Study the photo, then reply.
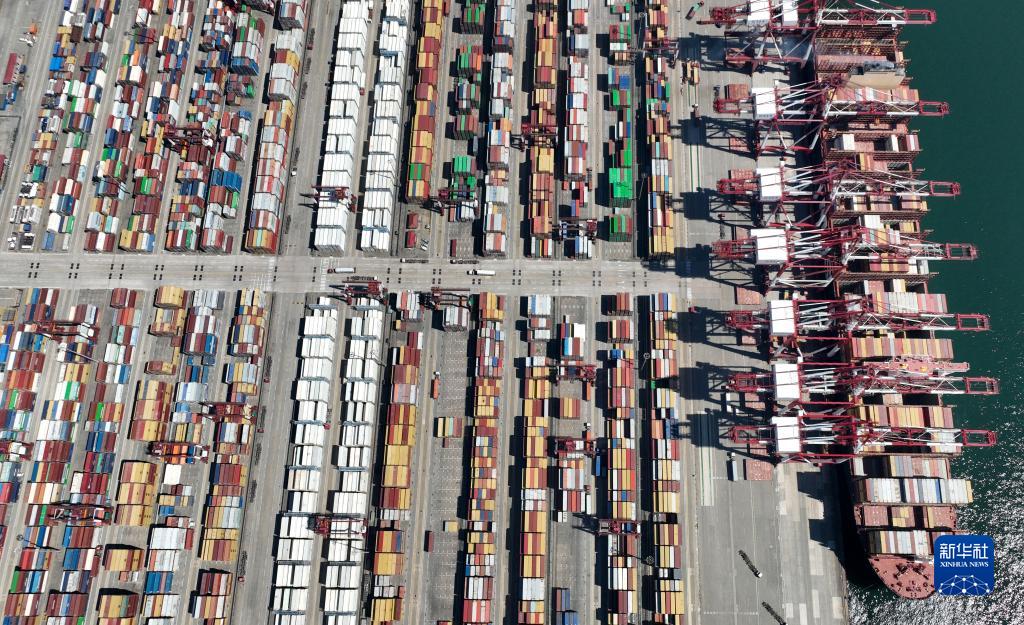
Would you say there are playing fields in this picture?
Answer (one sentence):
No, I can see no playing field in this picture.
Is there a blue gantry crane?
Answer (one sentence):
No, I find no blue gantry crane anywhere in the image.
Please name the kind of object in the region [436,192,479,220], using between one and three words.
container crane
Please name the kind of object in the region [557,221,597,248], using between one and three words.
container crane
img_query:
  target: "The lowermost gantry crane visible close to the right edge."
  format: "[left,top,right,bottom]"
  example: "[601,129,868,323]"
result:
[725,411,998,472]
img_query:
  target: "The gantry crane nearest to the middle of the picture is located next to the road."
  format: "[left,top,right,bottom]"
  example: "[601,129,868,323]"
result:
[430,289,474,315]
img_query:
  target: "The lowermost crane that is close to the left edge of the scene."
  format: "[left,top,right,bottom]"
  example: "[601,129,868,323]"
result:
[51,505,116,527]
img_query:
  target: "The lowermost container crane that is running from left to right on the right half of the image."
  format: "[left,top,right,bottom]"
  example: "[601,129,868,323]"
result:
[596,518,642,540]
